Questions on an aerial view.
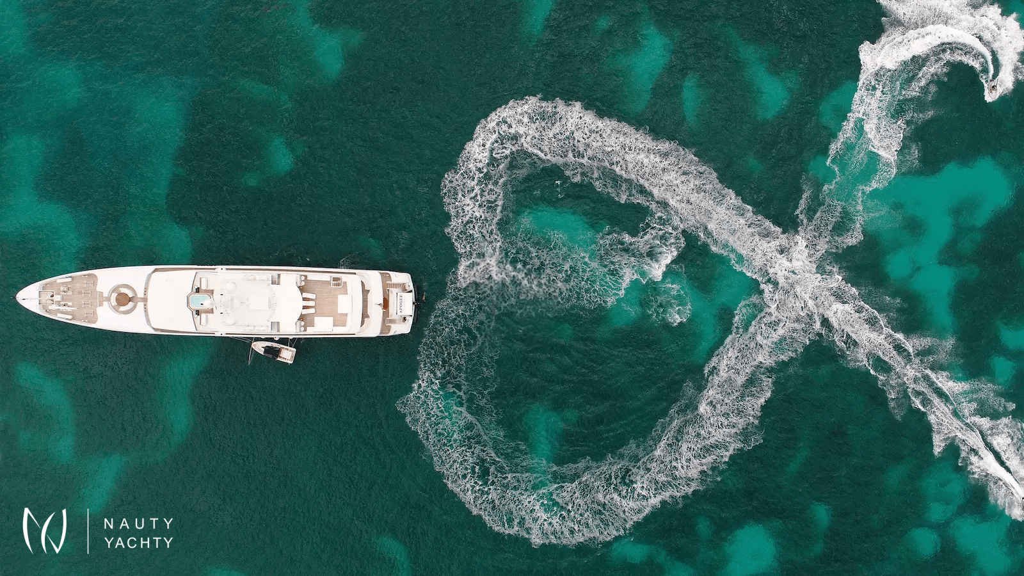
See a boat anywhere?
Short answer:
Yes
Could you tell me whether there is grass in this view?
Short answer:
No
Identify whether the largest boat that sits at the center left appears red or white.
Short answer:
white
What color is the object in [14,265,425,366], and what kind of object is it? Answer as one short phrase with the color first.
white boat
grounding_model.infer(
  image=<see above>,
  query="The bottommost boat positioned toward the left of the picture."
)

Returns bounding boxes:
[252,341,296,367]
